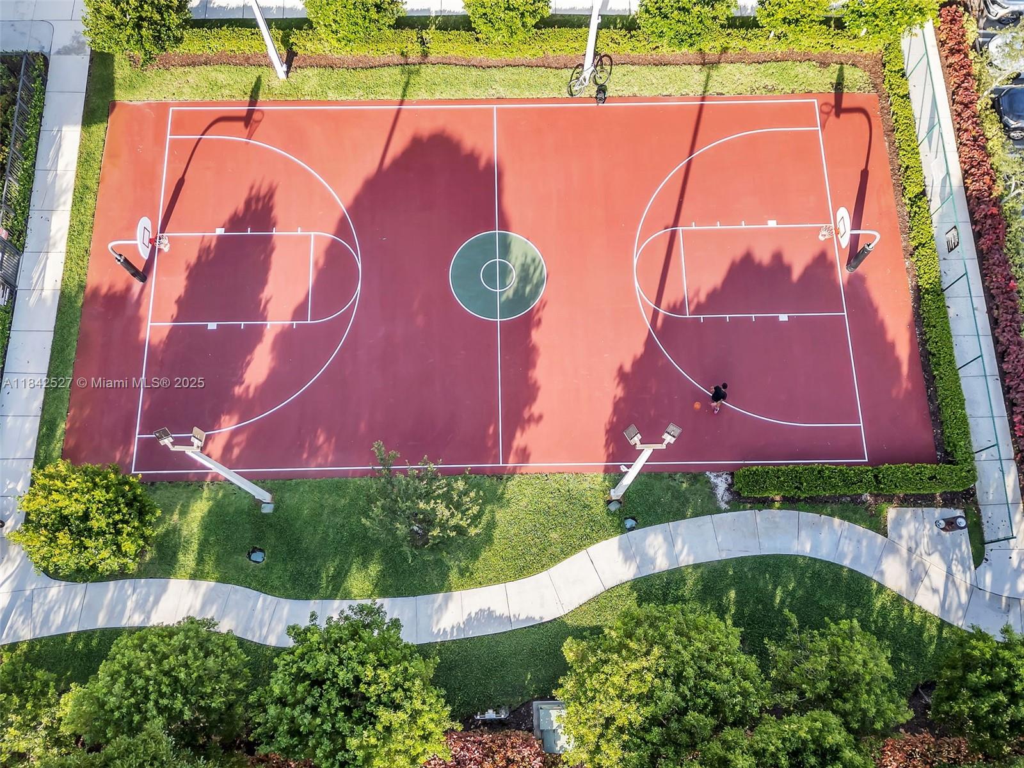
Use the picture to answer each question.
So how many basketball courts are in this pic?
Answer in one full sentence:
I count 1 basketball court.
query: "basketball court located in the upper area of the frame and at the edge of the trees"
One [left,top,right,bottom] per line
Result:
[60,93,937,483]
